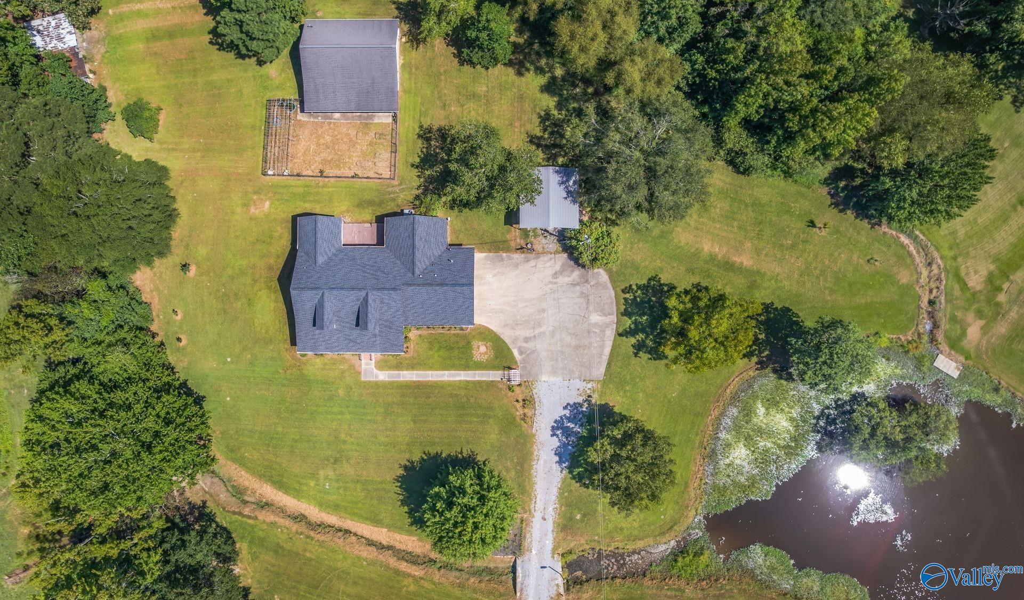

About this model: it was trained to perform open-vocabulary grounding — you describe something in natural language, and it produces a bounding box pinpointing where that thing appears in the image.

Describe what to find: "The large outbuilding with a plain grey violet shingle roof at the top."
[299,17,400,117]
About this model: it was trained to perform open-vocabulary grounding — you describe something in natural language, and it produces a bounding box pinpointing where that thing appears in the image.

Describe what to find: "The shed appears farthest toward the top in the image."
[24,15,91,62]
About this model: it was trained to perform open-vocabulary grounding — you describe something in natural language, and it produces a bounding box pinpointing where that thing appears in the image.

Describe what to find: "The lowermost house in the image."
[290,215,475,354]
